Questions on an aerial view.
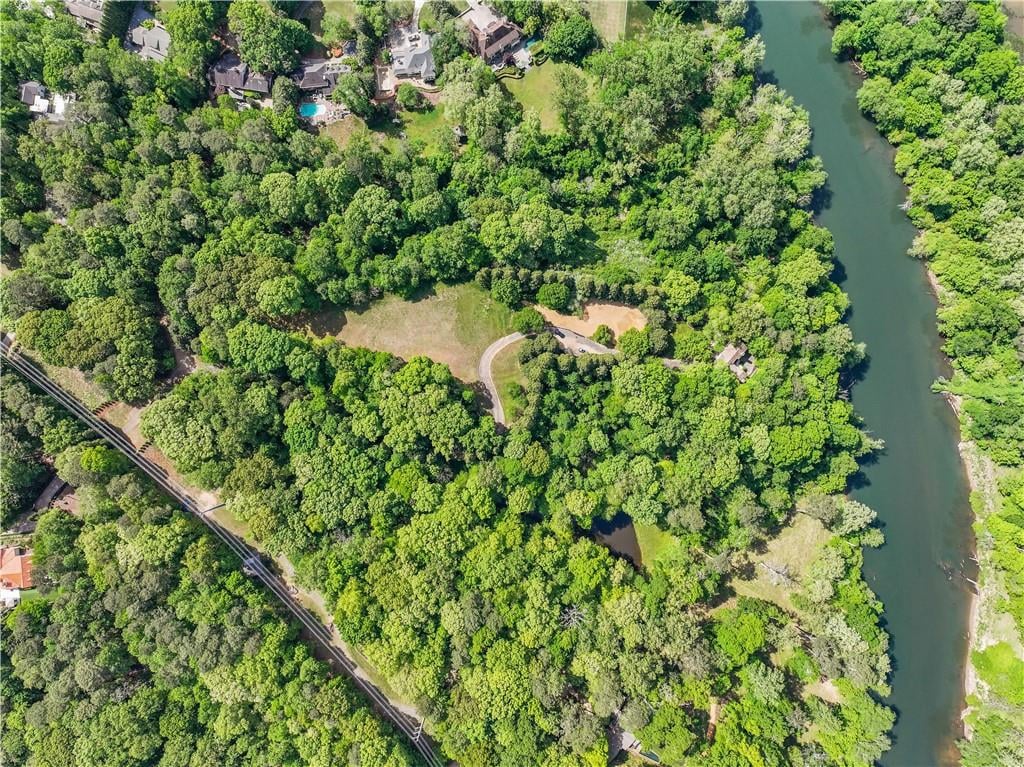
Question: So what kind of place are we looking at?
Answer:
forest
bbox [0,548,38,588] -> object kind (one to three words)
house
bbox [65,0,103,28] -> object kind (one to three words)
house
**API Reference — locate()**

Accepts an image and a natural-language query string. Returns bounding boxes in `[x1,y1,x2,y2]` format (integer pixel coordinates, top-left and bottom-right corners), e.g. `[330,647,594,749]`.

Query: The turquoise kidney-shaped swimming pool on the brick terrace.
[298,102,326,118]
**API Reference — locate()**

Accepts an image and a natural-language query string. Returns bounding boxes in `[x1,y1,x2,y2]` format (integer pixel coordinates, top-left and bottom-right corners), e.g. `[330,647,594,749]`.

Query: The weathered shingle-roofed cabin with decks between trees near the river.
[716,341,755,382]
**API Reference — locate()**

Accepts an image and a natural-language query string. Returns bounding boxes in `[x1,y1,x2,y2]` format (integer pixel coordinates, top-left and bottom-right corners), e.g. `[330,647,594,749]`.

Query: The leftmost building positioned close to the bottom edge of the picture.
[618,728,642,751]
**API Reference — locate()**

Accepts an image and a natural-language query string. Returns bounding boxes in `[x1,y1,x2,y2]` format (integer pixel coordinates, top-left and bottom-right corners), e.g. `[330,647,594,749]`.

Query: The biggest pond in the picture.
[596,509,643,576]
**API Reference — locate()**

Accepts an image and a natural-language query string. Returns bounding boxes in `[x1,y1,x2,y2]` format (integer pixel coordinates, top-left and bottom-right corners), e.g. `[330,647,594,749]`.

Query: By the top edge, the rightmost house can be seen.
[467,17,523,68]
